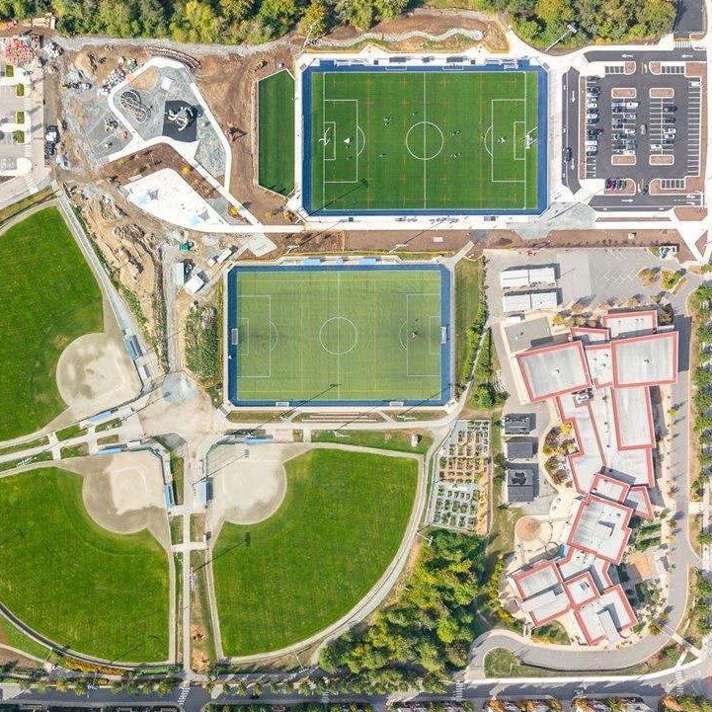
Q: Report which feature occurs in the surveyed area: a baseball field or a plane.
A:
baseball field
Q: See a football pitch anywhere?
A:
Yes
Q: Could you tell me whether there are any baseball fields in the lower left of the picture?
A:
Yes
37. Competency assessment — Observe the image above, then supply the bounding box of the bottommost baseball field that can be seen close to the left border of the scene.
[0,443,174,670]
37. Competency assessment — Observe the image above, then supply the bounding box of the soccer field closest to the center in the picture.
[228,265,450,406]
